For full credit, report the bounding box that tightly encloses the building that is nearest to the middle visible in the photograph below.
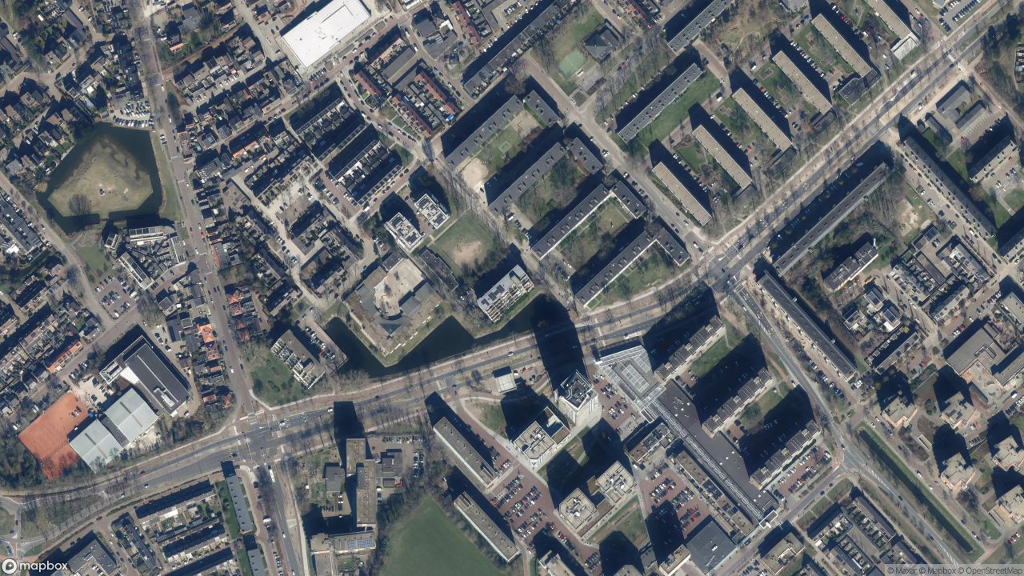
[477,264,534,327]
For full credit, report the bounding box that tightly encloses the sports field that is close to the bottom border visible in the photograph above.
[379,495,515,576]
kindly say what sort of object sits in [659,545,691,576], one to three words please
building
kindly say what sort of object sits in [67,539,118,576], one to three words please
building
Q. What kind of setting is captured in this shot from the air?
residential area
